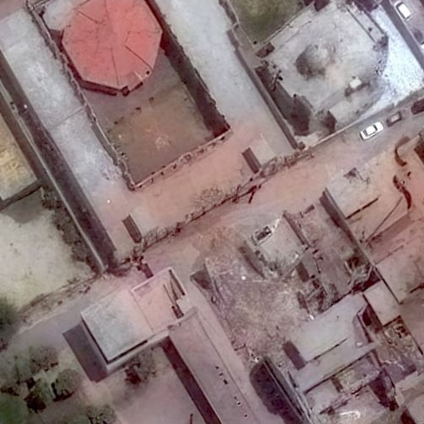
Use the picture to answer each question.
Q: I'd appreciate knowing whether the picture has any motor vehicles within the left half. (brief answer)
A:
No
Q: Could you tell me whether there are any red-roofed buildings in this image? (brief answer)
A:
Yes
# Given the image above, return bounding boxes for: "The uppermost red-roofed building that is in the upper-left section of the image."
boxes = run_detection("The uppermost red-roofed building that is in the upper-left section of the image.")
[62,0,162,93]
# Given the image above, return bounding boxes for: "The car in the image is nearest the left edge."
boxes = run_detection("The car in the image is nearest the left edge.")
[359,122,384,140]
